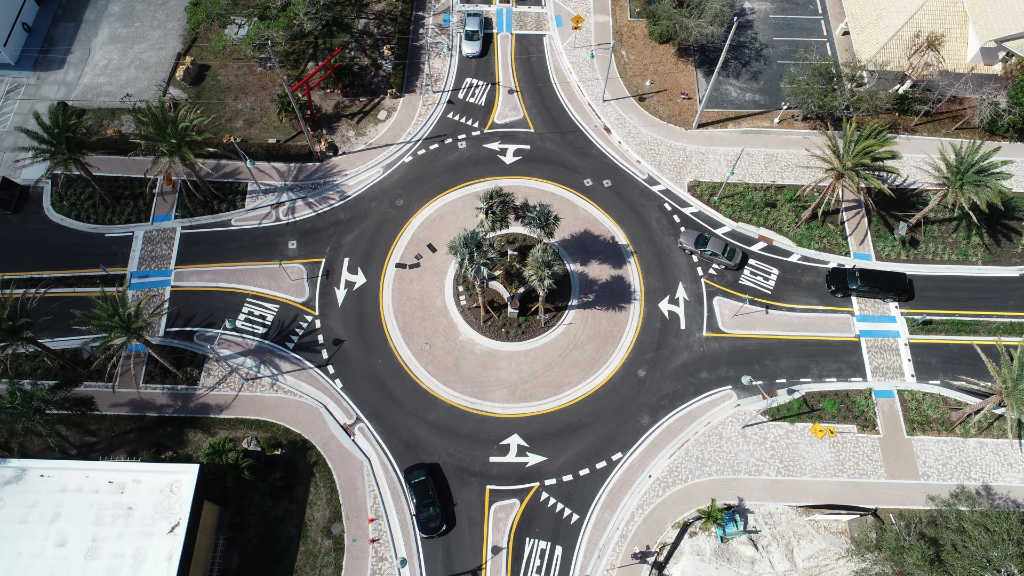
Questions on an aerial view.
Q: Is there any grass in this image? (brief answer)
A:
Yes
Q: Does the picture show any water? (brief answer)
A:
No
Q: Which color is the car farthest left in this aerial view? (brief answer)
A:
black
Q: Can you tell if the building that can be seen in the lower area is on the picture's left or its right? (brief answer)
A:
left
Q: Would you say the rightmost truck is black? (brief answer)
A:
Yes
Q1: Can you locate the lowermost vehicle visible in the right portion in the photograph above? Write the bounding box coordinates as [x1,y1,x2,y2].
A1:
[824,265,908,302]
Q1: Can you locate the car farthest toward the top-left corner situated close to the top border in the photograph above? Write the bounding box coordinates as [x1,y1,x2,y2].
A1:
[460,11,486,58]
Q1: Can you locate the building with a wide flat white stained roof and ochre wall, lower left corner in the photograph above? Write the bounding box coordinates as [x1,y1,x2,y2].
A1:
[0,459,230,576]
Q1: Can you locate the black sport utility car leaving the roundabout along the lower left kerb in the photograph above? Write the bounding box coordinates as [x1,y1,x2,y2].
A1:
[403,465,446,541]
